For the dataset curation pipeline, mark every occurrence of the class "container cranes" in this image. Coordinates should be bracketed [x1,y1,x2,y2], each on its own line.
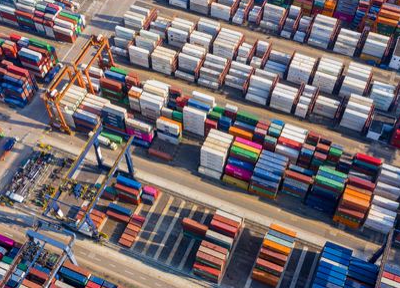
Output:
[43,127,137,239]
[40,66,90,128]
[0,220,82,288]
[69,34,115,87]
[366,227,400,288]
